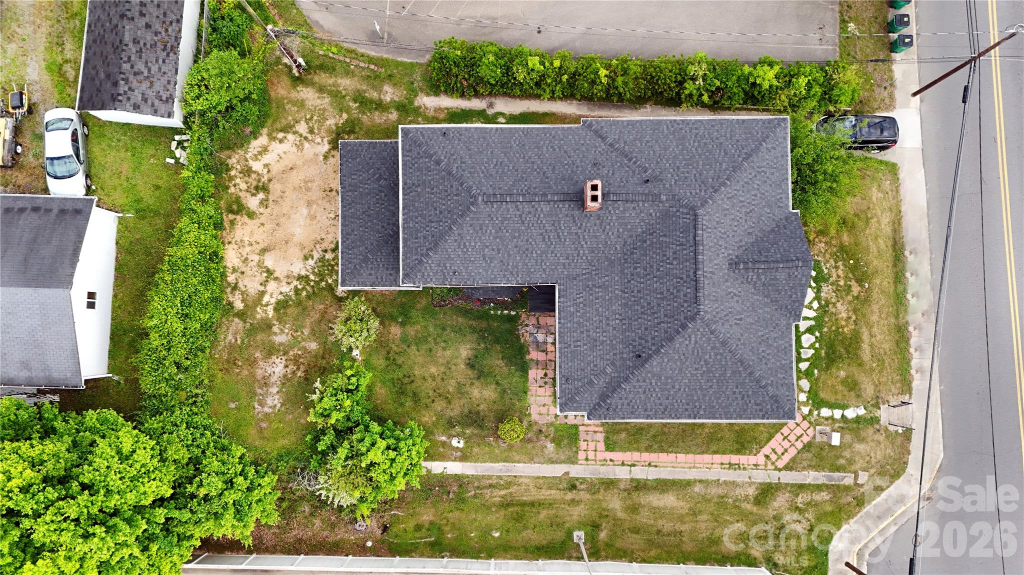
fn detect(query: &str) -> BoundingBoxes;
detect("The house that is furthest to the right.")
[337,115,809,423]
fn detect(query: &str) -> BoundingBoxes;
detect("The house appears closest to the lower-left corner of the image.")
[0,194,131,390]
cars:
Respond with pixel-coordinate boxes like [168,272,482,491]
[811,113,901,158]
[41,110,93,194]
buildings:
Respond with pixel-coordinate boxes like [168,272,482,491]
[75,0,199,126]
[0,194,131,390]
[337,115,809,423]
